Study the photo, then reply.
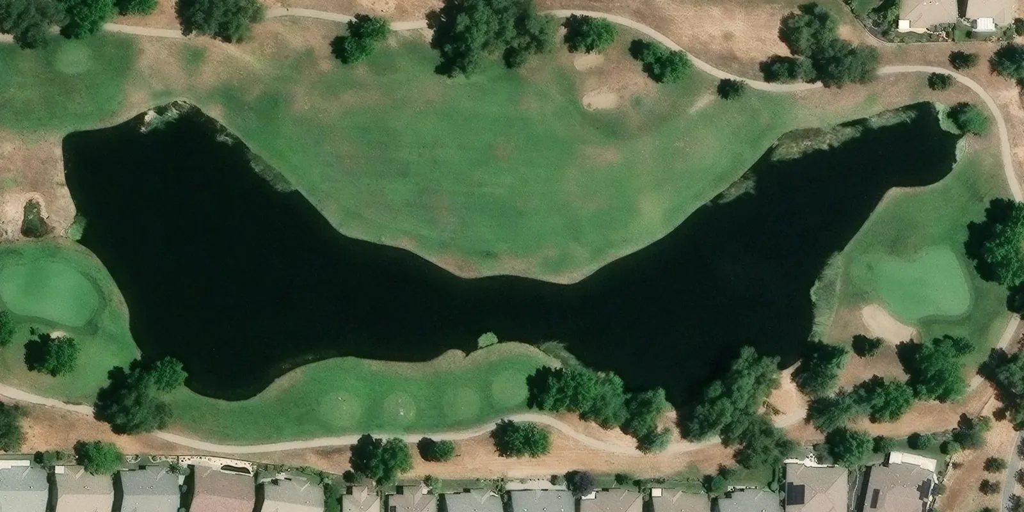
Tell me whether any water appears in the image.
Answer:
Yes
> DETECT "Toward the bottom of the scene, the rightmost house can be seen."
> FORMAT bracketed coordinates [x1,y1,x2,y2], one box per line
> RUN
[857,460,932,512]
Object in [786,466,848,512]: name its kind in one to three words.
house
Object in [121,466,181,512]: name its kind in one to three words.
house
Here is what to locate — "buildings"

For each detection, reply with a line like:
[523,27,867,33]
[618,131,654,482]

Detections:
[121,466,181,512]
[445,488,505,512]
[0,466,49,512]
[389,486,437,512]
[651,489,712,512]
[718,490,785,512]
[786,466,848,512]
[898,0,958,29]
[260,475,324,512]
[580,489,643,512]
[342,486,380,512]
[56,466,113,512]
[966,0,1018,26]
[510,489,577,512]
[857,460,932,512]
[190,467,255,512]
